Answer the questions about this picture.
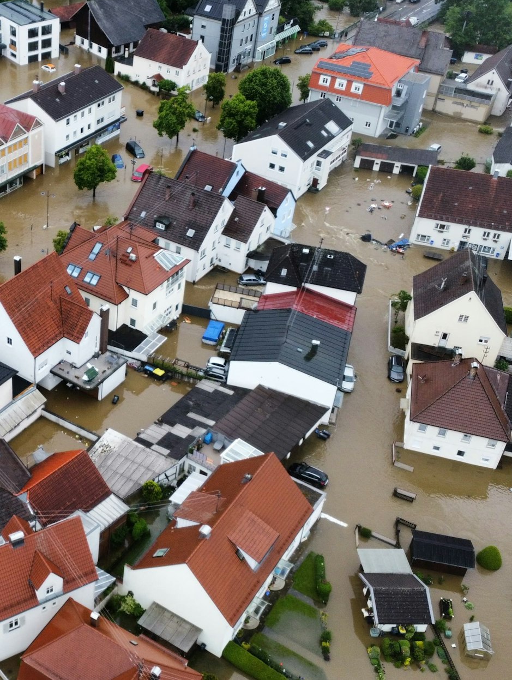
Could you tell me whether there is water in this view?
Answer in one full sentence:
Yes, water shows up in the scene.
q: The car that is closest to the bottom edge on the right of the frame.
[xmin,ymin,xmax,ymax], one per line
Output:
[287,462,333,493]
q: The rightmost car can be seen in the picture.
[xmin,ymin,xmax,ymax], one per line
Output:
[454,71,471,84]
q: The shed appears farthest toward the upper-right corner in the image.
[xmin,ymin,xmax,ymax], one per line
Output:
[462,36,498,65]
